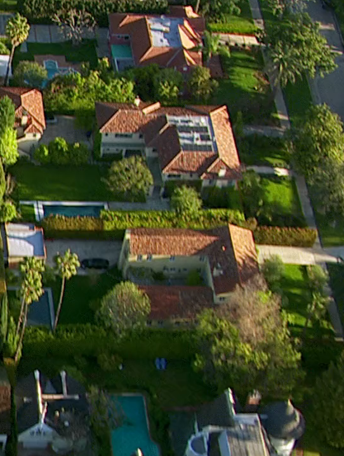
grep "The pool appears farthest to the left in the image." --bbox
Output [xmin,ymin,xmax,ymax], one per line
[25,287,56,332]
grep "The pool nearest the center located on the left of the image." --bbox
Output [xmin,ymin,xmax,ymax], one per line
[40,202,106,218]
